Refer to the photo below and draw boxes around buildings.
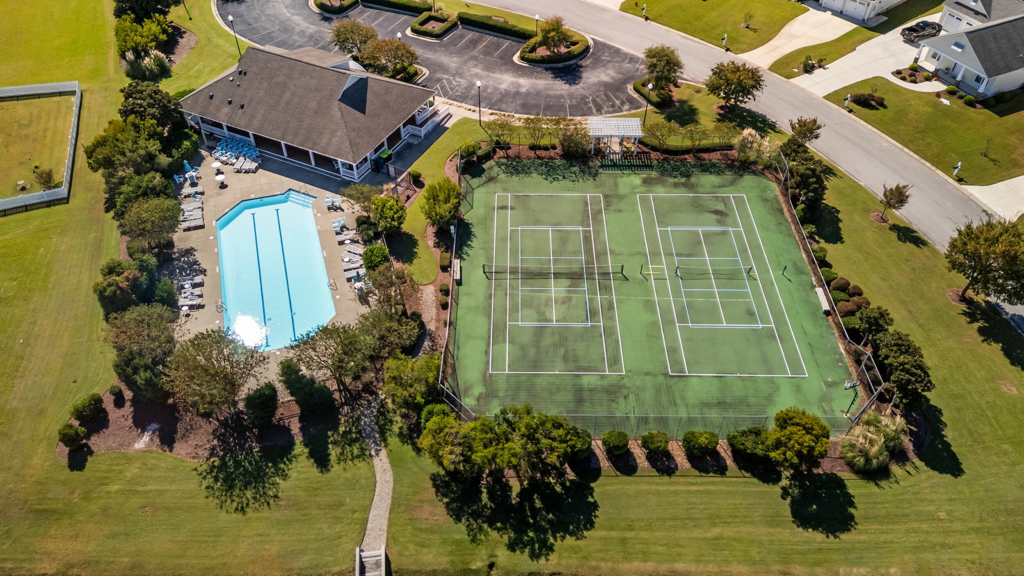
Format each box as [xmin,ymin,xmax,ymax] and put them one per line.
[912,0,1024,99]
[180,45,453,185]
[808,0,904,22]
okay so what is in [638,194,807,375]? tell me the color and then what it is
green tennis court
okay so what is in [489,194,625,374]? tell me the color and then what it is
green tennis court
